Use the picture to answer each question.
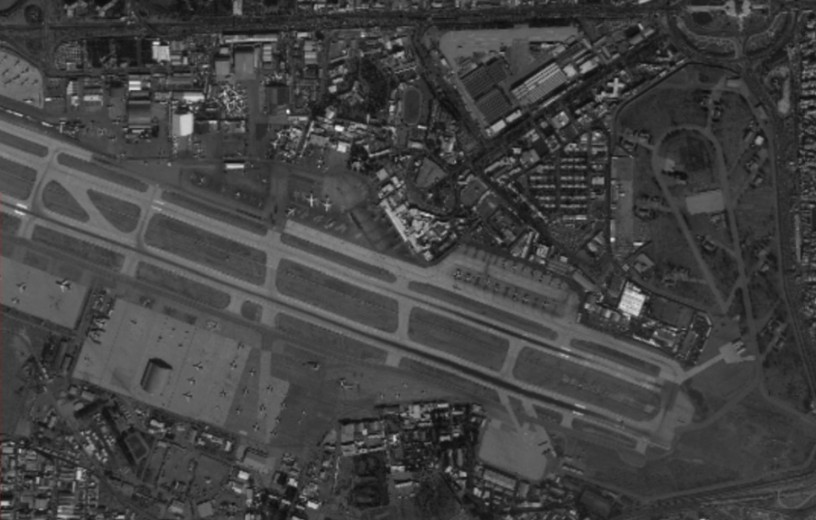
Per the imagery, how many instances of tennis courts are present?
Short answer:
zero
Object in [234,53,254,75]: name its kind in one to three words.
hangar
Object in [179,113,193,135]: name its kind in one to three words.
hangar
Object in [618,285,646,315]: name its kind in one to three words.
building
